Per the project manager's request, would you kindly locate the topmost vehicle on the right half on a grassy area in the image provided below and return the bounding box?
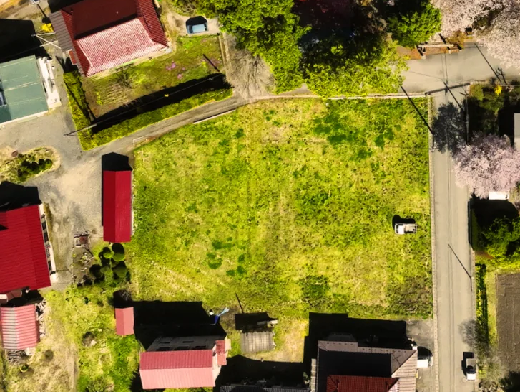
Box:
[394,221,416,233]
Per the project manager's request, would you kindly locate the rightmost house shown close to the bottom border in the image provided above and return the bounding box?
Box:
[311,336,417,392]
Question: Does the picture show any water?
No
